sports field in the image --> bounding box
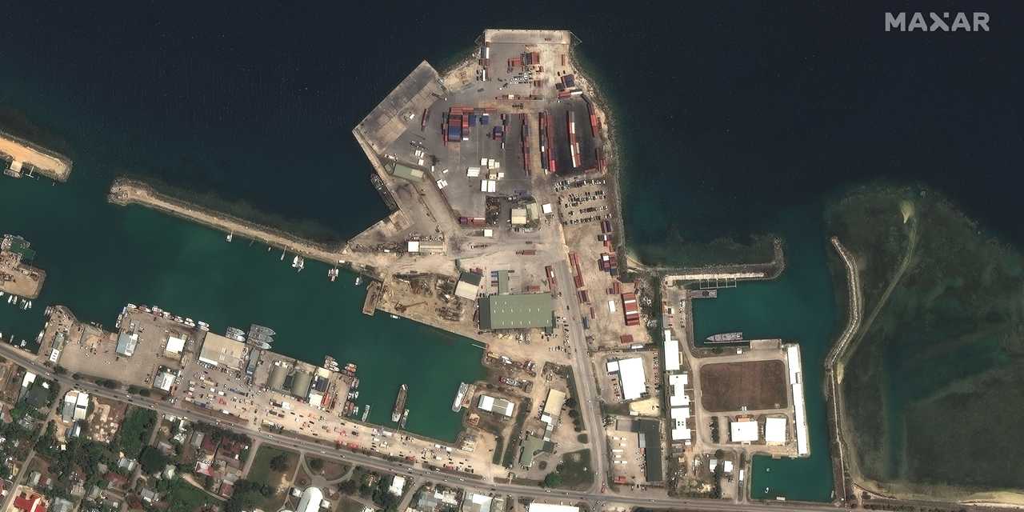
[701,360,788,411]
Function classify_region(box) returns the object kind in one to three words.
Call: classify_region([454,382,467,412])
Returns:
ship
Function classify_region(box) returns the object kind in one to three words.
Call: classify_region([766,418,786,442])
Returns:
building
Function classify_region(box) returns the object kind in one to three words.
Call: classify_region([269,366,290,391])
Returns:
shed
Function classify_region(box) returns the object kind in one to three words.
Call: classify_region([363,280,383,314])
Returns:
ship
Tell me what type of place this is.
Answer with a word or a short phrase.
port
